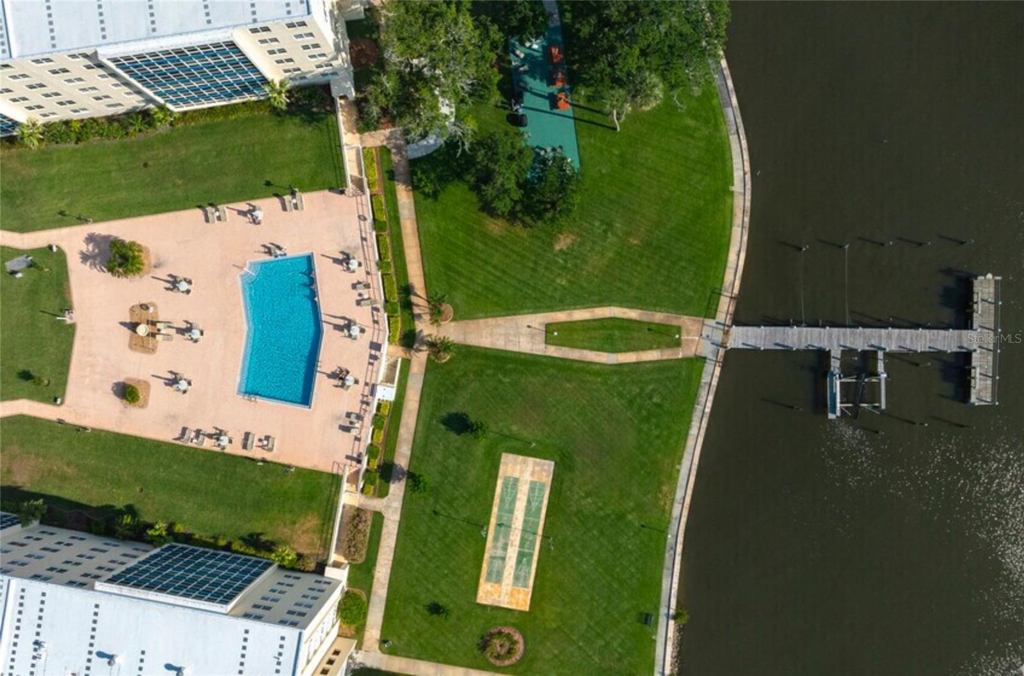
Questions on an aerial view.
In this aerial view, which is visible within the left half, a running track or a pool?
pool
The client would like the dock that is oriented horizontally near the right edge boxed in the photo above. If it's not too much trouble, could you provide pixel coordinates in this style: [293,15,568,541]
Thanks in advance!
[726,276,1003,405]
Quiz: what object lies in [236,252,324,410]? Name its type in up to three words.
swimming pool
